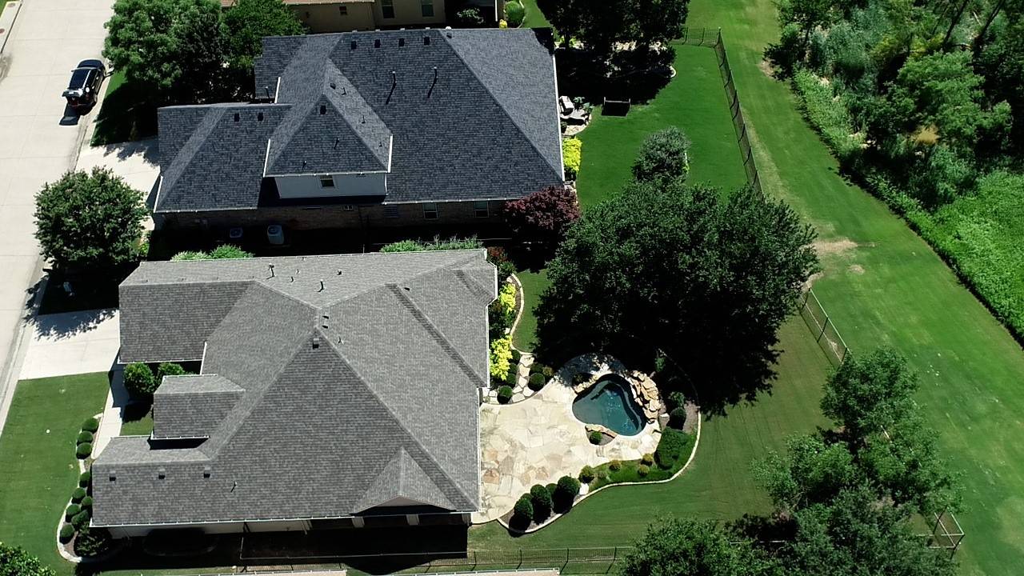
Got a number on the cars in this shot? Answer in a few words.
1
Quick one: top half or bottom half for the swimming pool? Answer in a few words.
bottom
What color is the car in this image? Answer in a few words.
black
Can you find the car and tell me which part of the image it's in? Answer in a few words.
top left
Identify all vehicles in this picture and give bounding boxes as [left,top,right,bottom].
[58,62,107,112]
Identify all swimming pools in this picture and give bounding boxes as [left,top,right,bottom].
[568,369,651,441]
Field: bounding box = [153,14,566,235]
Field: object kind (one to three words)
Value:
house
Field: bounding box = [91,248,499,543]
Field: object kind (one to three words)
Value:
house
